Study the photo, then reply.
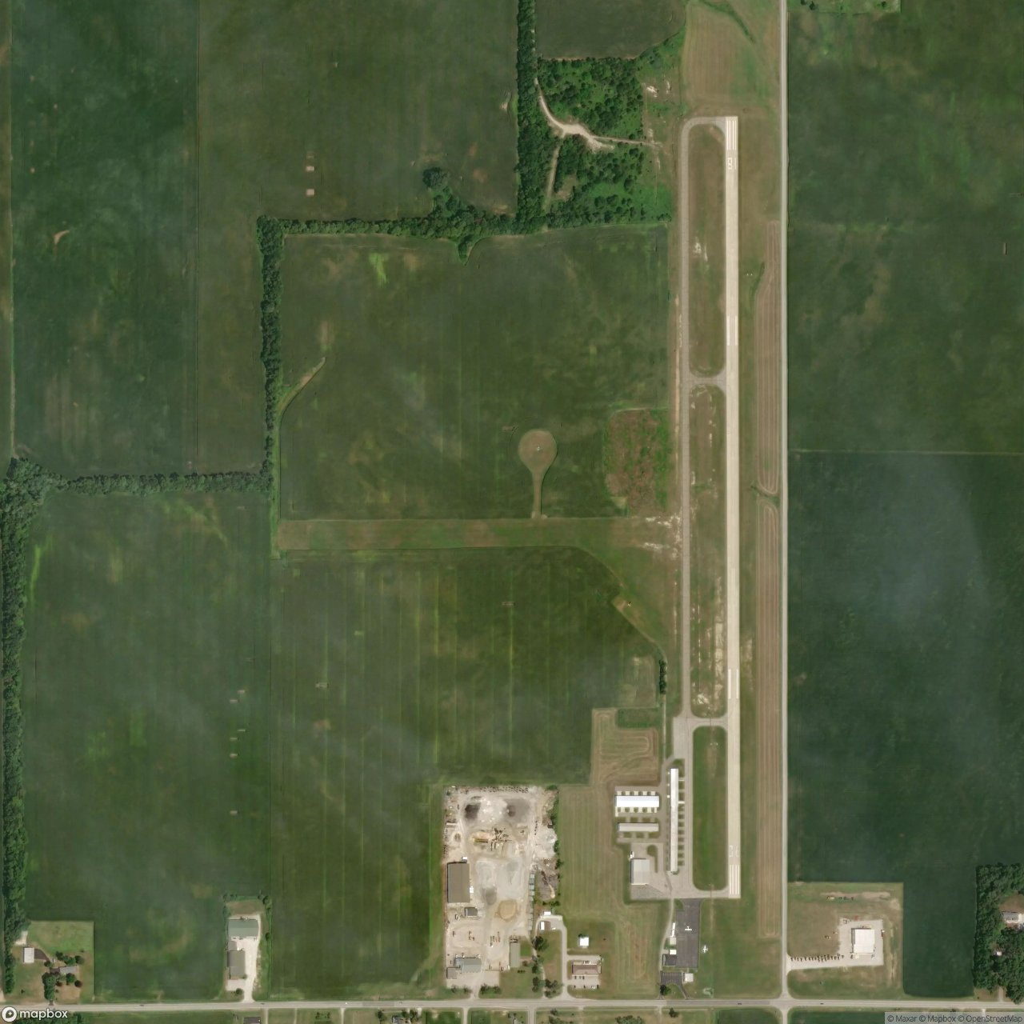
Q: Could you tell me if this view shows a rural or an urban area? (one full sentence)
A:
The land in this view is best described as rural.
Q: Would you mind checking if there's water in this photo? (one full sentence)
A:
No, there's no water in this view.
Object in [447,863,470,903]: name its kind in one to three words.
building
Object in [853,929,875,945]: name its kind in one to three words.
building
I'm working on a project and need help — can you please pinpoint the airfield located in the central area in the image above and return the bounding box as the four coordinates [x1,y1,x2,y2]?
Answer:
[278,117,740,968]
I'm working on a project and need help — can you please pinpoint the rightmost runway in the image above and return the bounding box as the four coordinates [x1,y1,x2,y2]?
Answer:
[726,117,740,898]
